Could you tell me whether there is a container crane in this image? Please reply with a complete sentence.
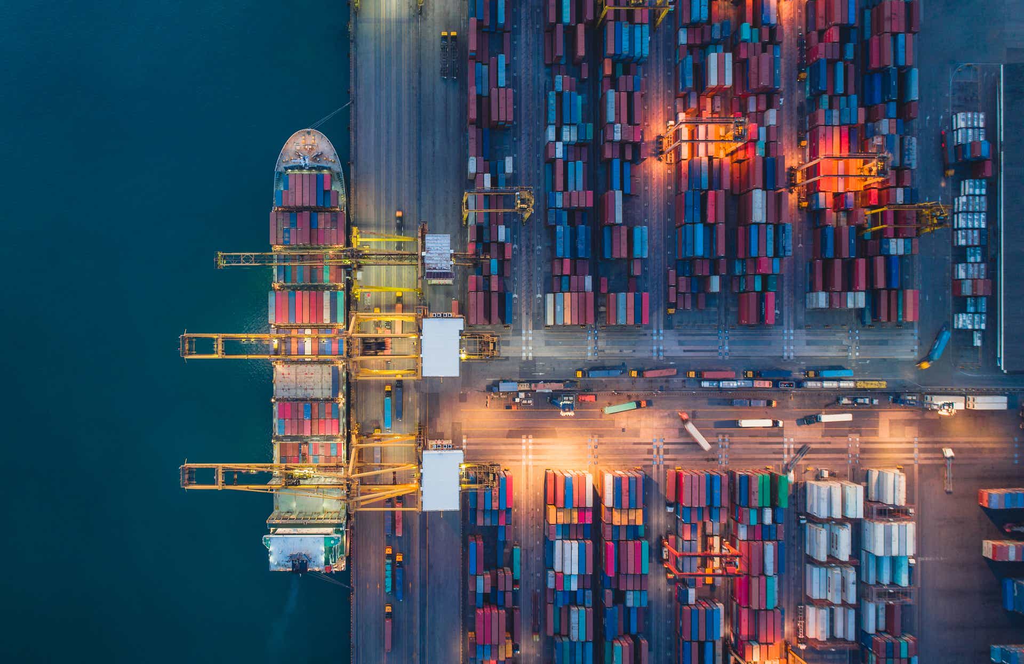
Yes, there's a container crane here.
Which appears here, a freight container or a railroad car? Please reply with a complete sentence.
Visible in the photo is a freight container.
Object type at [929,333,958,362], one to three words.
shipping container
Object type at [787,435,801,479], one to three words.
vehicle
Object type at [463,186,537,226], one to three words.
container crane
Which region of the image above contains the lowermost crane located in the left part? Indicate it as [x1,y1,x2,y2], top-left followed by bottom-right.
[177,417,498,518]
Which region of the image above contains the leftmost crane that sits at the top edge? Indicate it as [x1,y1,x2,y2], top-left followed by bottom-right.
[595,0,676,38]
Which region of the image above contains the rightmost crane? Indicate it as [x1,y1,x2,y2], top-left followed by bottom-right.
[861,202,964,240]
